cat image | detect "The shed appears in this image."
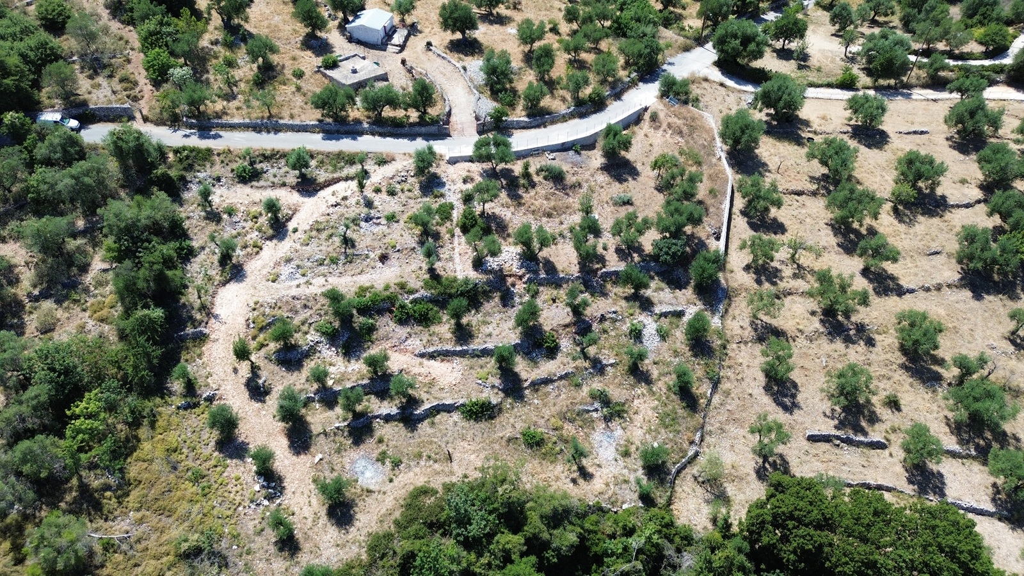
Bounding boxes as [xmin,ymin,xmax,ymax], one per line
[345,1,399,44]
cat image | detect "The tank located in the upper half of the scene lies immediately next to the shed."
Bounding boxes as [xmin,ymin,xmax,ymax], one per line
[319,55,388,90]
